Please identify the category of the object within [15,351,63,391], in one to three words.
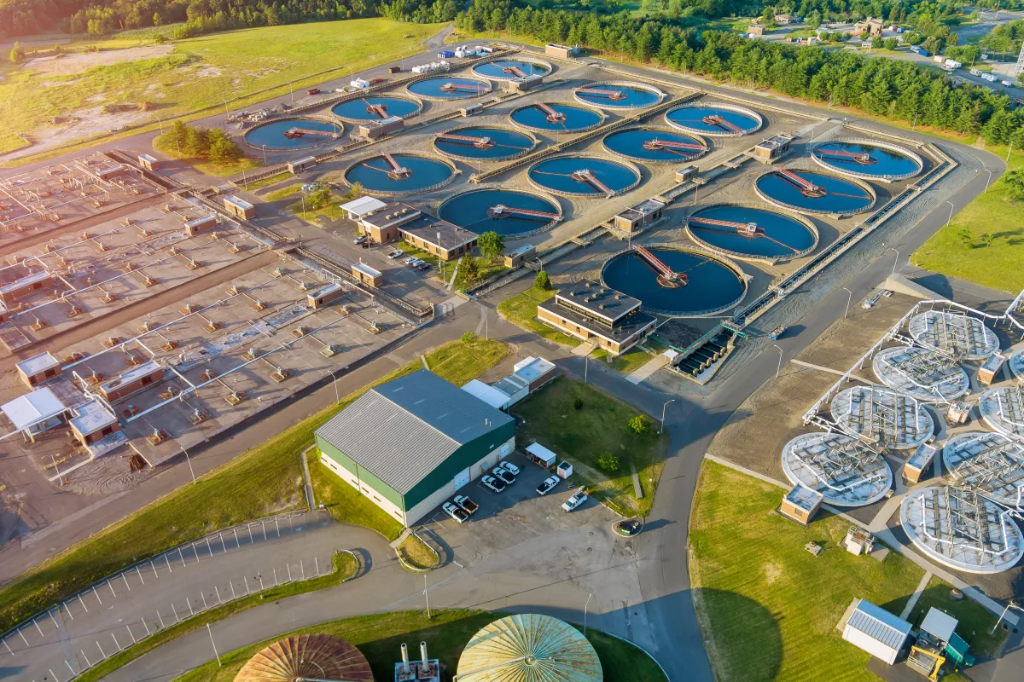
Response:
shed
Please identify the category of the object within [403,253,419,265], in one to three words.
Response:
vehicle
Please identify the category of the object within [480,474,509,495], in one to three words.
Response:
truck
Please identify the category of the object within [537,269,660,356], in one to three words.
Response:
house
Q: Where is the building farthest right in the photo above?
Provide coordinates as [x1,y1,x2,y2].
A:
[974,352,1006,383]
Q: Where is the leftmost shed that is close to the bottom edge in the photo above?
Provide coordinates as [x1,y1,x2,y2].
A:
[842,598,913,665]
